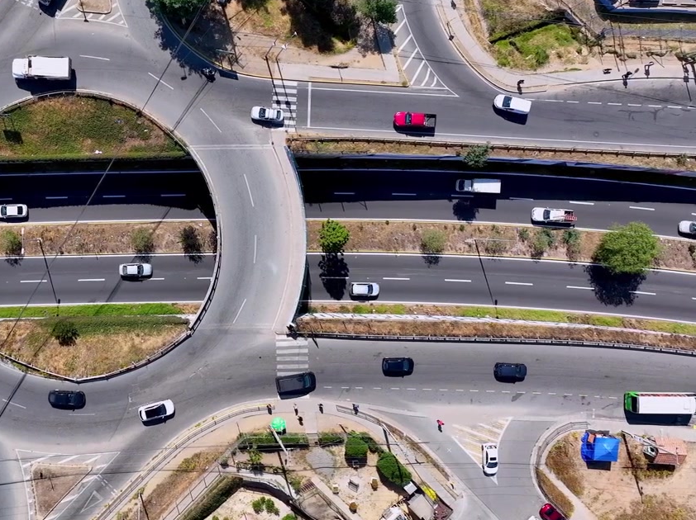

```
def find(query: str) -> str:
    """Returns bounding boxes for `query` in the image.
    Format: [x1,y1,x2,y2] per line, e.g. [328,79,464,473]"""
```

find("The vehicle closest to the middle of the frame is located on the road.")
[348,283,378,298]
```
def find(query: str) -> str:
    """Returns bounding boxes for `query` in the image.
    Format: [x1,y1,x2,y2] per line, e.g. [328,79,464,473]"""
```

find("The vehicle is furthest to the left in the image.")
[0,204,29,220]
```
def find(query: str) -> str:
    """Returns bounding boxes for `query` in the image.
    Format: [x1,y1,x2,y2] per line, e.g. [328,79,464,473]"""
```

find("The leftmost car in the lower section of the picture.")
[50,390,86,408]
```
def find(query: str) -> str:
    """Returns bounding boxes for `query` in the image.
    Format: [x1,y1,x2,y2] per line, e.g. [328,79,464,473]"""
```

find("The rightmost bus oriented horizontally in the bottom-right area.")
[616,391,696,416]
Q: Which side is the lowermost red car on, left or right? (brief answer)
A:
right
